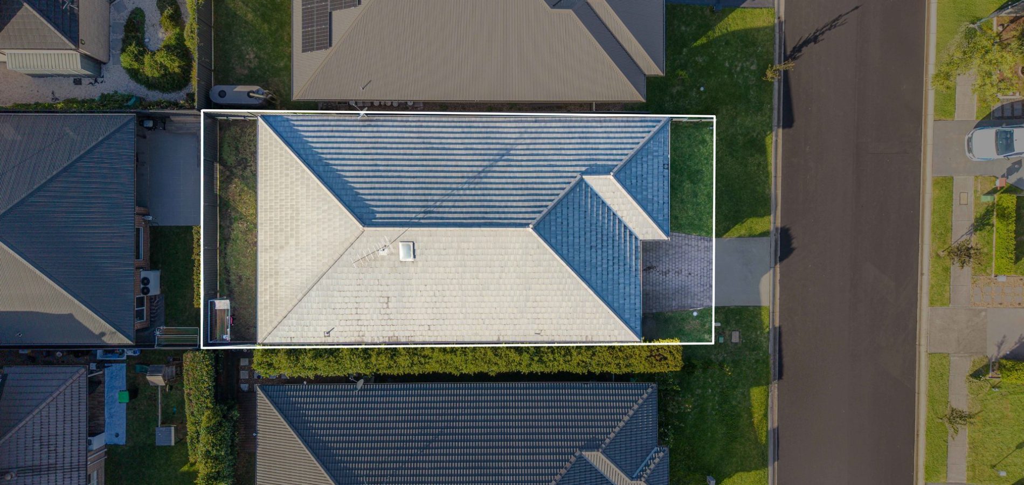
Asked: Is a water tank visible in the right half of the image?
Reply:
No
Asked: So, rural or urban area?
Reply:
urban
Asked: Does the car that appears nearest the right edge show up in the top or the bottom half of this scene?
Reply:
top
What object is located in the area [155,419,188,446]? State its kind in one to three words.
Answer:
house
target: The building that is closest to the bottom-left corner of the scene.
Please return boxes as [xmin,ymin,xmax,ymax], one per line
[0,364,114,485]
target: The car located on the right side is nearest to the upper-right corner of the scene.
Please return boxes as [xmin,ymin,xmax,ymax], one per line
[964,123,1024,163]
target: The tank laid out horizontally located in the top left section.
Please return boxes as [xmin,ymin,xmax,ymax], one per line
[211,86,284,110]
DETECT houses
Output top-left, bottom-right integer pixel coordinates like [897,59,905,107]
[0,0,110,62]
[0,111,150,346]
[290,0,667,103]
[155,419,188,446]
[255,113,672,345]
[0,364,114,485]
[254,380,670,485]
